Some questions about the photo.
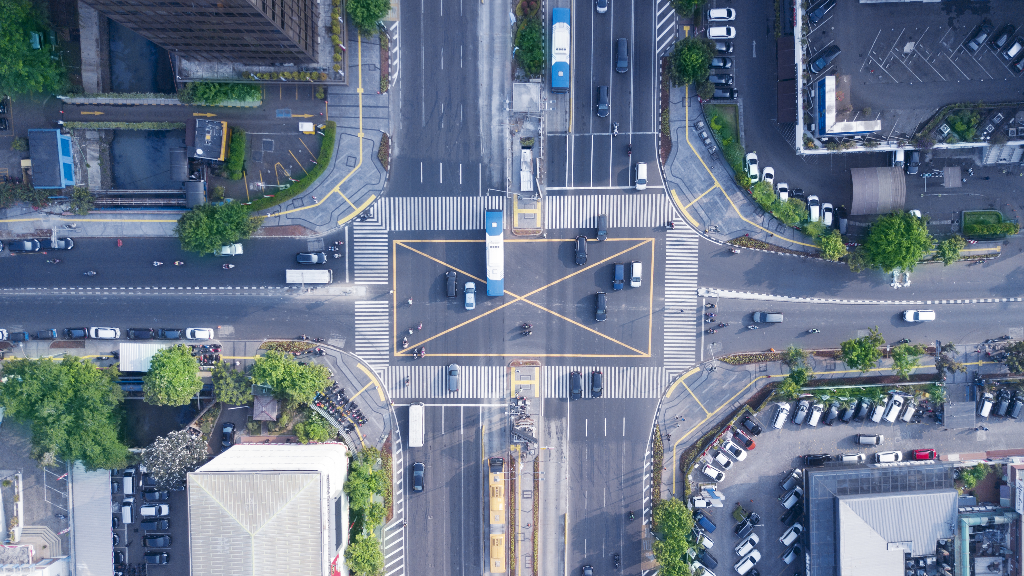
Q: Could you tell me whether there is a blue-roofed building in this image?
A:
Yes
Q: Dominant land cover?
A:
paved ground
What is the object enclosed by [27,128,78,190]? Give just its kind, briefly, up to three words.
house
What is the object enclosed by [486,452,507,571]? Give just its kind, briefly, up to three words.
bus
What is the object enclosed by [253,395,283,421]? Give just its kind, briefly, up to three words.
gazebo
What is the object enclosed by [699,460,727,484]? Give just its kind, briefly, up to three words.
car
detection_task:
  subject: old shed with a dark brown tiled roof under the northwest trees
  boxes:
[50,0,82,31]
